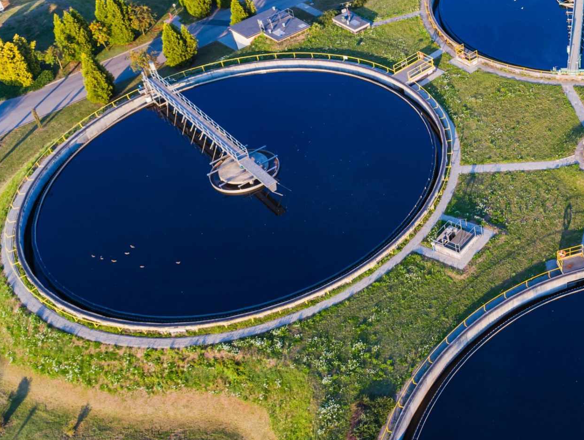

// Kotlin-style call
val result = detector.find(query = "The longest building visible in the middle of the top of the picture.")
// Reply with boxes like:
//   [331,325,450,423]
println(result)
[230,7,311,53]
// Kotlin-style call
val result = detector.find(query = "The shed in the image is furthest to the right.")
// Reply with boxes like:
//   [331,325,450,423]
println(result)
[333,3,370,37]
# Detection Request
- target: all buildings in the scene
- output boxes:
[333,3,370,37]
[230,7,311,53]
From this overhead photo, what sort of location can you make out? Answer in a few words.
industrial area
